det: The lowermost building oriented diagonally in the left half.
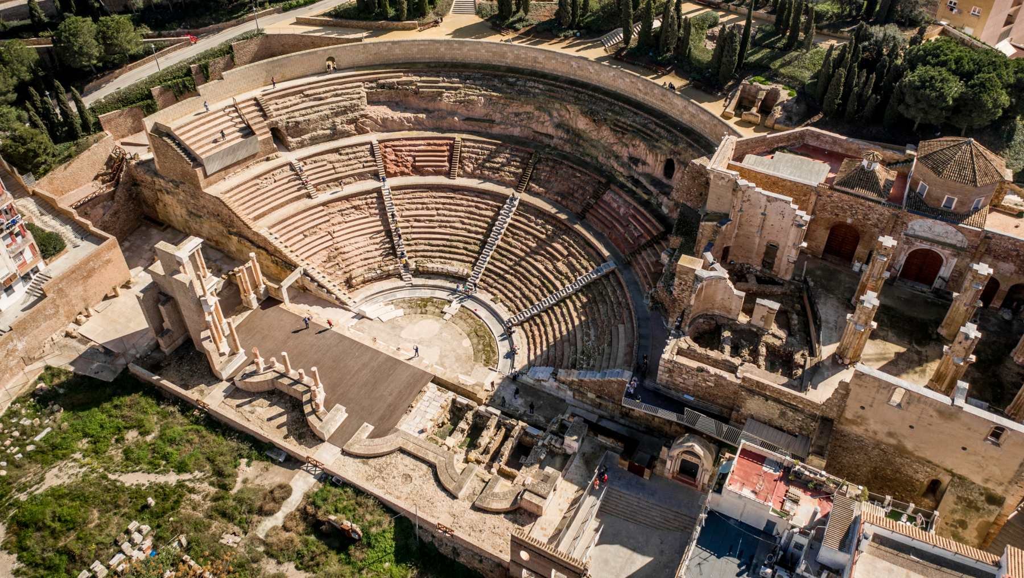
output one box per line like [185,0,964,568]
[153,236,563,518]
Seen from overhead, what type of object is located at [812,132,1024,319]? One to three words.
church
